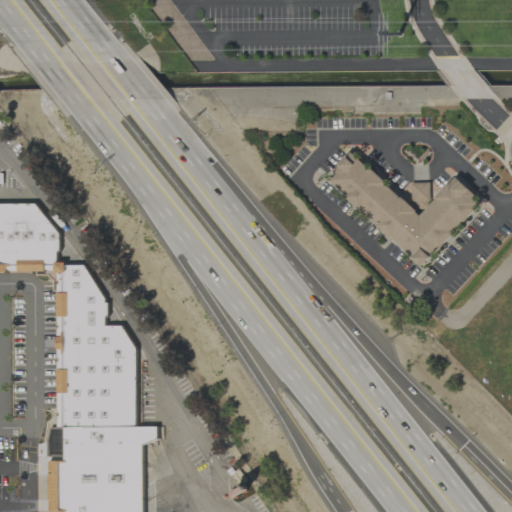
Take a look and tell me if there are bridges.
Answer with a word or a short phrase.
Yes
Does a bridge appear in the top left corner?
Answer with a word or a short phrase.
Yes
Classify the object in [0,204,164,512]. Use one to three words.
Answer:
building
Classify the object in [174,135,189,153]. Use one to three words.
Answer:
vehicle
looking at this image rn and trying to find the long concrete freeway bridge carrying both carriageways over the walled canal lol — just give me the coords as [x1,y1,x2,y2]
[0,22,182,112]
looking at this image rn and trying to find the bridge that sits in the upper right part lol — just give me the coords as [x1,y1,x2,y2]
[434,56,502,100]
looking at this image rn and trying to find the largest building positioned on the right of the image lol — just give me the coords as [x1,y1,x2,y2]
[330,154,476,268]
